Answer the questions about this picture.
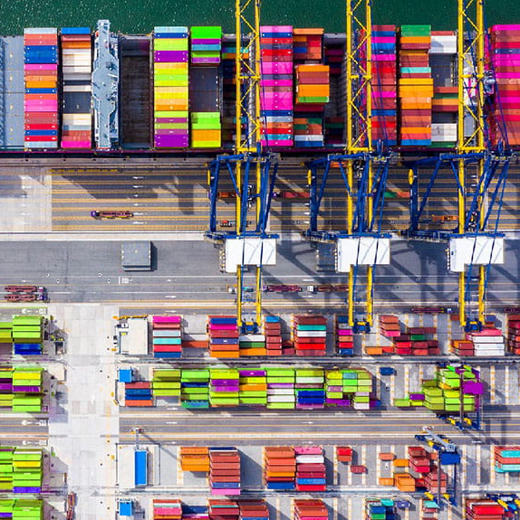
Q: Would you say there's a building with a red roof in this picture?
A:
No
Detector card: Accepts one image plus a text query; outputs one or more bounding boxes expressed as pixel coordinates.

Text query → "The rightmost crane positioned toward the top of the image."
[393,0,512,338]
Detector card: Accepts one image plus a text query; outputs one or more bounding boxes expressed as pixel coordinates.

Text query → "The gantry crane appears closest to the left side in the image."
[198,0,278,338]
